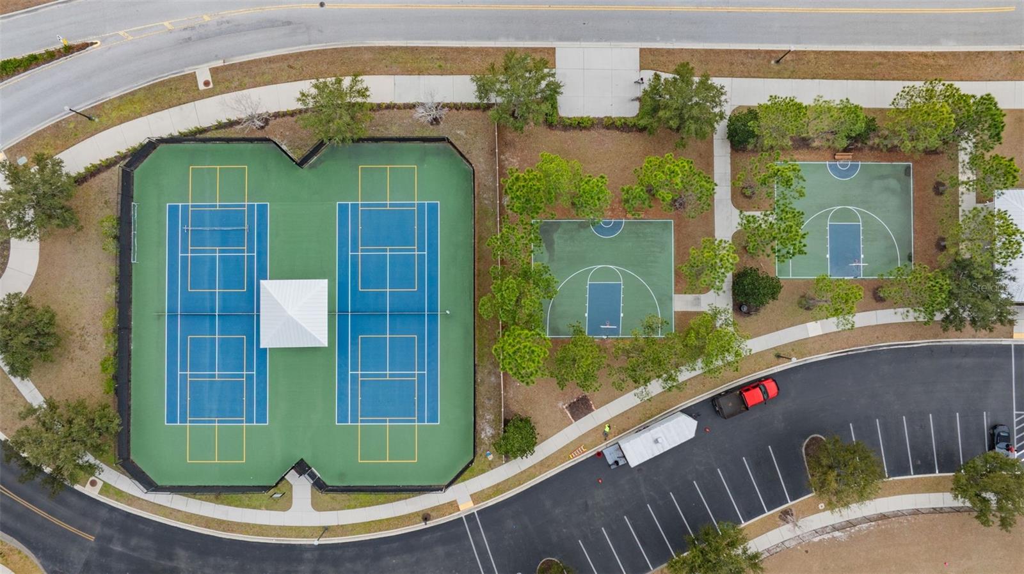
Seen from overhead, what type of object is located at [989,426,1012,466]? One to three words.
car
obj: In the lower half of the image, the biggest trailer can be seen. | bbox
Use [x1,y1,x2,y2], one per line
[602,412,701,470]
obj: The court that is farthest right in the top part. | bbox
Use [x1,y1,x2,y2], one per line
[774,162,914,278]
